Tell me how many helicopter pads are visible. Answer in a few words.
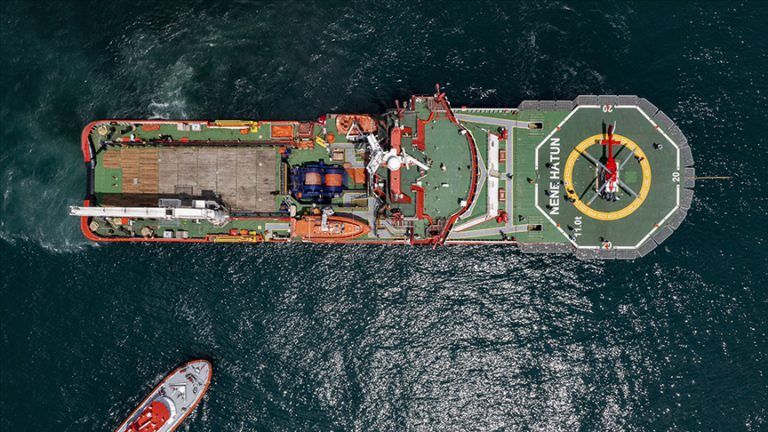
1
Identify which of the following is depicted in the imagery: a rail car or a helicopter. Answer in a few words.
helicopter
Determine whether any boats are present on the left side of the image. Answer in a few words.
Yes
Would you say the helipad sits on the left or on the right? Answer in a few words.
right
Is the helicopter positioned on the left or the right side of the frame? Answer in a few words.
right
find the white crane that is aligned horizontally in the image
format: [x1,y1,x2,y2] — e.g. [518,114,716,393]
[69,198,232,225]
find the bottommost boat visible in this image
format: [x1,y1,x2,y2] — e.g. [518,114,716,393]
[118,360,212,432]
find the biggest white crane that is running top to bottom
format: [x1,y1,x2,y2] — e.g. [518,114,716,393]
[367,136,385,201]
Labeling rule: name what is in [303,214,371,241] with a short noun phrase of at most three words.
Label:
boat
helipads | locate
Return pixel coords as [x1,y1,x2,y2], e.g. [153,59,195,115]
[518,95,695,258]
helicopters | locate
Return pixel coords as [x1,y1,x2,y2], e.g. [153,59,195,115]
[584,118,638,206]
